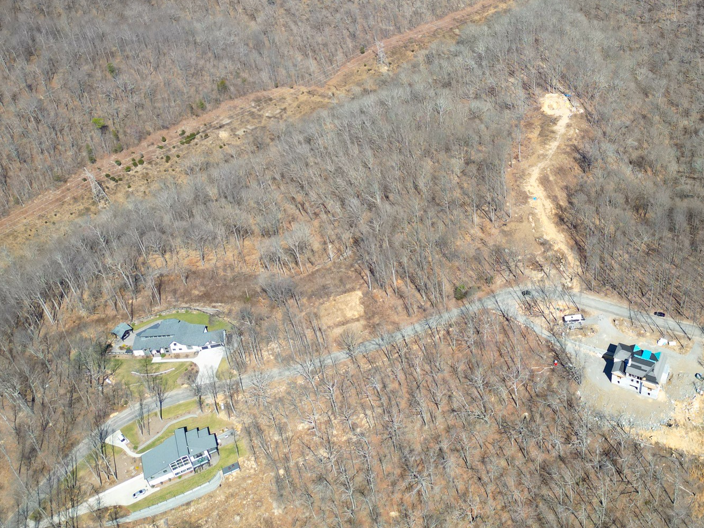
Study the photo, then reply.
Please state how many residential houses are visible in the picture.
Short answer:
3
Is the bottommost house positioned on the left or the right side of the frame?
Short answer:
left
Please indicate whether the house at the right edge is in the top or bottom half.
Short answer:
bottom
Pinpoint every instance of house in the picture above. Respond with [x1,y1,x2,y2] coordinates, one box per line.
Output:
[143,429,222,493]
[604,340,673,402]
[131,318,226,357]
